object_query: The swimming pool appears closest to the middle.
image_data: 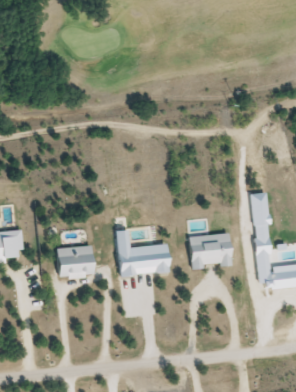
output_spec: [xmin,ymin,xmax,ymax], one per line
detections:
[126,226,152,242]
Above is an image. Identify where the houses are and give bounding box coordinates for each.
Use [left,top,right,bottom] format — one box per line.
[250,193,296,290]
[116,230,172,278]
[0,230,24,262]
[56,245,96,280]
[190,233,234,270]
